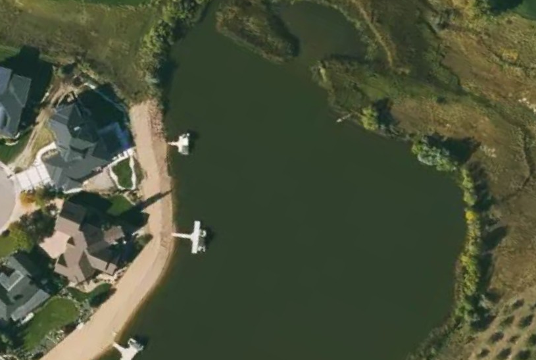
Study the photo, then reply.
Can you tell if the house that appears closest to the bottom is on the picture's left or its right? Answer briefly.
left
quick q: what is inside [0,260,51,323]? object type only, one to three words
house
